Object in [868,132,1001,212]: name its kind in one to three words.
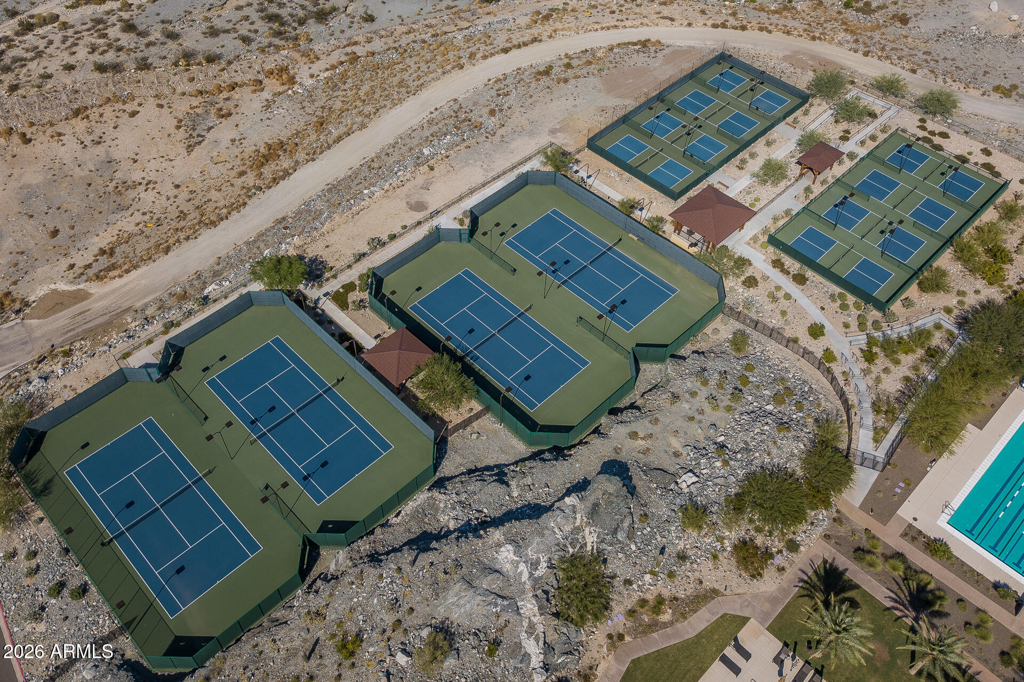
sports court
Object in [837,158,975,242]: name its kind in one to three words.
sports court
